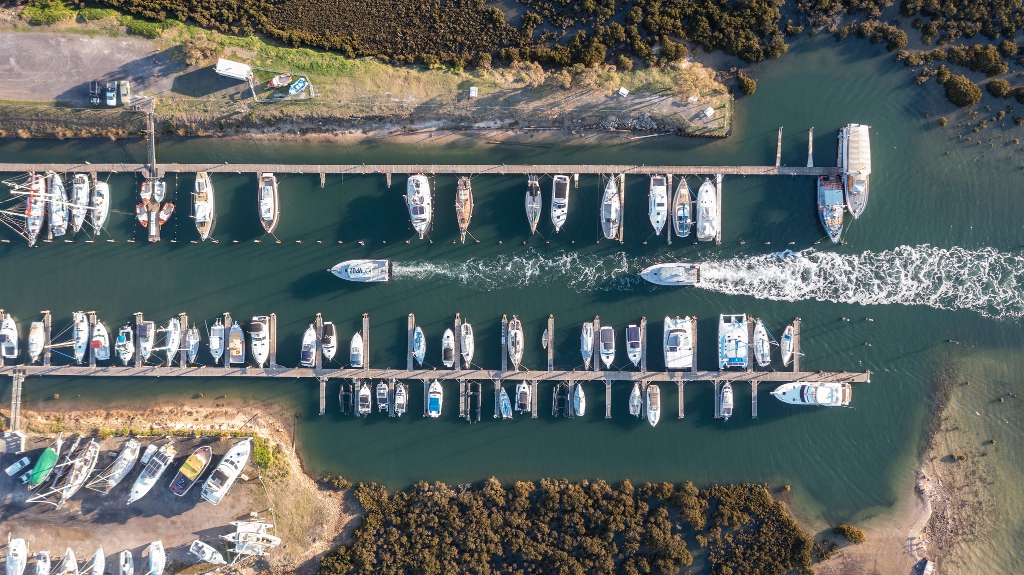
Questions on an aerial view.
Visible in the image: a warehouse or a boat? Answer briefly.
boat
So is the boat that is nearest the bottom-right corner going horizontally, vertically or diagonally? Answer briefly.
horizontally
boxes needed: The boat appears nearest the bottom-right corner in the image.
[770,380,853,409]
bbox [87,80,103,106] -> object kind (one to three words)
car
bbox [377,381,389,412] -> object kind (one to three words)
vessel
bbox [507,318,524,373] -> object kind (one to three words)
boat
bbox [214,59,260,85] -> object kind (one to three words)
truck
